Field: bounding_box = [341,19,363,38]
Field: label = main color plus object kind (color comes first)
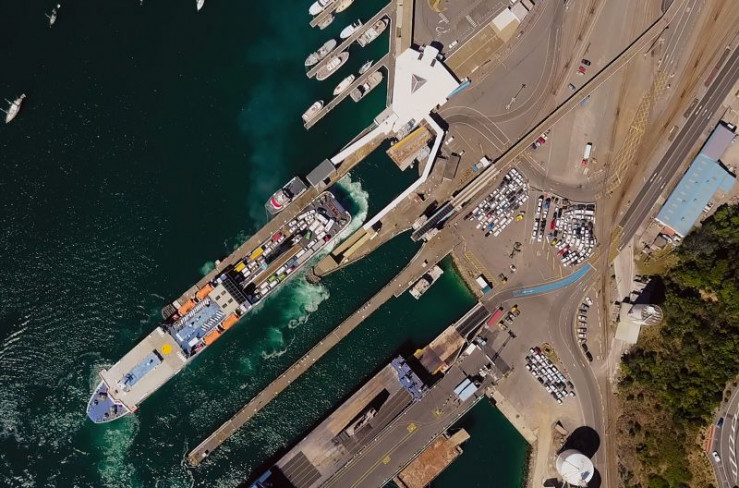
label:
white boat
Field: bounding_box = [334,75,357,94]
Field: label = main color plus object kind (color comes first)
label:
white boat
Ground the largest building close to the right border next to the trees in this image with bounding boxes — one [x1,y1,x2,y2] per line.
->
[652,153,735,237]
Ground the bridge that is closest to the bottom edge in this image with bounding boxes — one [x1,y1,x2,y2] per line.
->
[414,302,491,374]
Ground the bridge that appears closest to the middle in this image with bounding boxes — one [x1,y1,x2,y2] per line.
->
[408,196,461,244]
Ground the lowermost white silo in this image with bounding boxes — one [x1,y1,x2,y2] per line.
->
[554,446,595,488]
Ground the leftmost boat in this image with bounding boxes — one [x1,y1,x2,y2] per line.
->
[1,95,25,123]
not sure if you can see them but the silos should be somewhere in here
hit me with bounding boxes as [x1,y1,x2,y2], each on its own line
[626,303,663,327]
[554,446,595,488]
